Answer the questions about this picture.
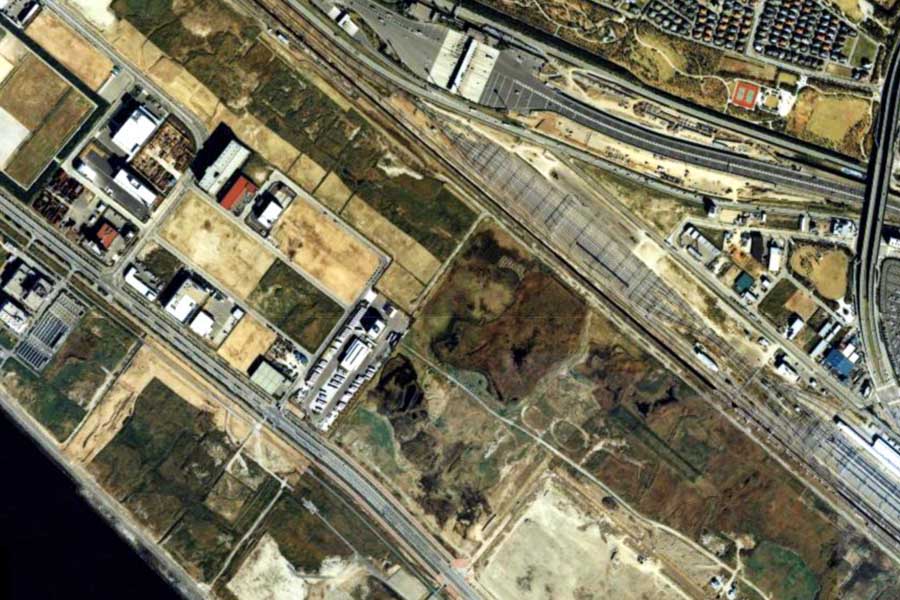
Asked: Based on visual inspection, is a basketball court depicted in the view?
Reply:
No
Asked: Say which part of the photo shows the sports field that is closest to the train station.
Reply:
right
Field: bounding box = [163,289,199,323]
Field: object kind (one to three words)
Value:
building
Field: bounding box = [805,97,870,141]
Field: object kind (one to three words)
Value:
sports field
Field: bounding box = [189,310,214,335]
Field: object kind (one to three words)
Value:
building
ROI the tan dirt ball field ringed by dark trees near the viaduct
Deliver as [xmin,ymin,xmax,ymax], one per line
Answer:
[793,246,849,299]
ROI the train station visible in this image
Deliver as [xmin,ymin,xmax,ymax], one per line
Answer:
[830,423,900,524]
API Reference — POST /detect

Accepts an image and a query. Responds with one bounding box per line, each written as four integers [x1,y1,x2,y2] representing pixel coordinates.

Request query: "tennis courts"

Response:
[743,83,760,110]
[731,80,749,106]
